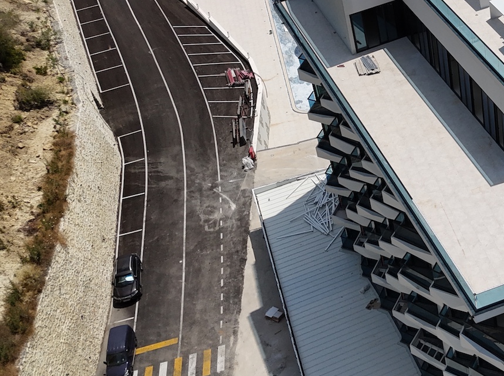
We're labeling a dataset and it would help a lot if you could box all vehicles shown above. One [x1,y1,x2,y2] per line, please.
[97,325,134,376]
[108,252,142,305]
